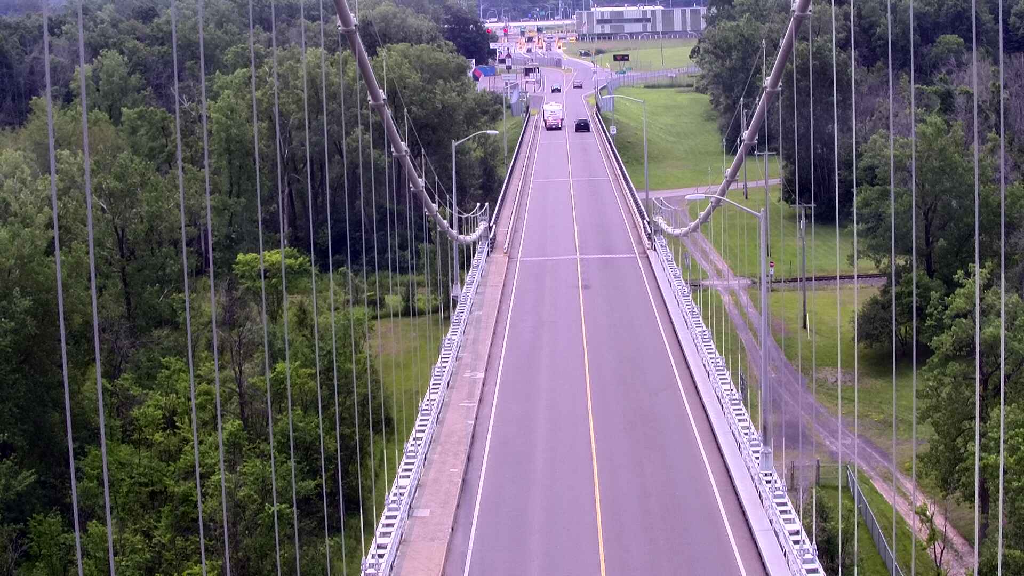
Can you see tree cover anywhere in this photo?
Yes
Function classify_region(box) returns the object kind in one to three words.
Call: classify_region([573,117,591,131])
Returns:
car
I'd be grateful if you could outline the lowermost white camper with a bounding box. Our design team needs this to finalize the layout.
[542,99,565,130]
